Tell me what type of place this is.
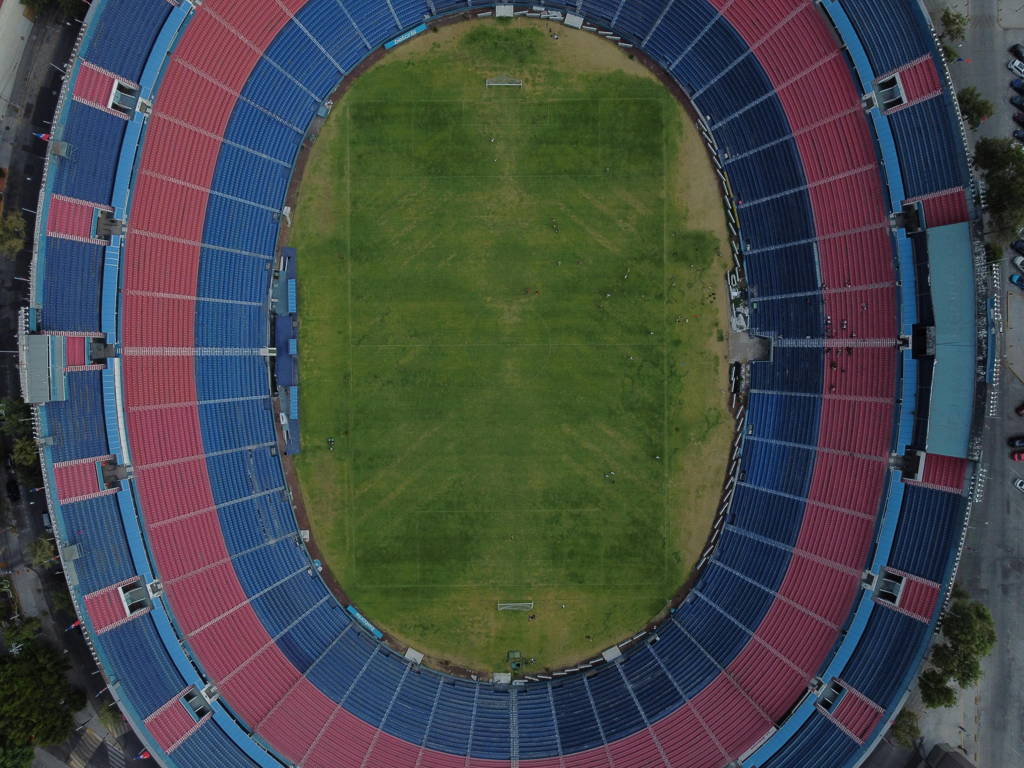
sports ground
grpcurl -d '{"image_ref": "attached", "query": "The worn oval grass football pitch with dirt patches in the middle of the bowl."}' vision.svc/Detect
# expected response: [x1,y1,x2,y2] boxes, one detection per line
[288,16,734,675]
